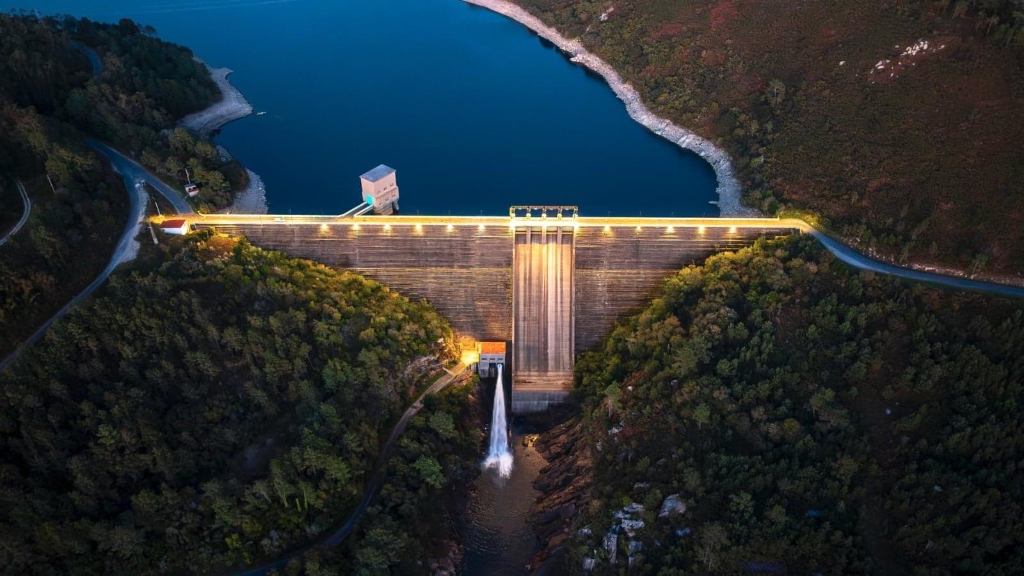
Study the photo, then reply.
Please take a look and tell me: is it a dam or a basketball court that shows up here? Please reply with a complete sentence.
I can see a dam in this picture.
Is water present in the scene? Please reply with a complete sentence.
Yes, water can be seen from above here.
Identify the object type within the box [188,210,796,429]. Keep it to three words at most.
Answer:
dam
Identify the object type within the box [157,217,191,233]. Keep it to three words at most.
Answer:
house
